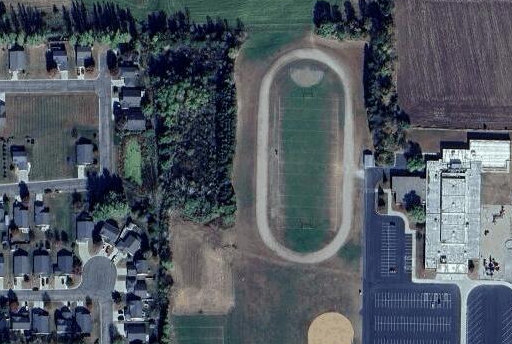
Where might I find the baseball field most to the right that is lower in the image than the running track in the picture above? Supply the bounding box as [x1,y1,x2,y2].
[308,313,354,344]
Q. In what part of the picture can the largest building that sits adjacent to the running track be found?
right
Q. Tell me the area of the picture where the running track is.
center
